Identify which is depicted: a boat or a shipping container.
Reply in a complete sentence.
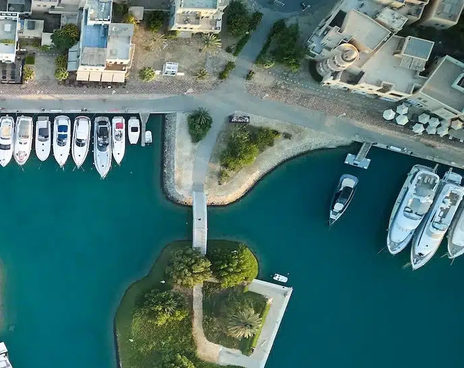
There is a boat in the scene.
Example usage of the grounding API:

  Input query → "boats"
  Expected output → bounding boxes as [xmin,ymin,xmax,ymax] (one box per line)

[411,164,464,271]
[52,114,72,172]
[34,115,52,160]
[71,114,91,176]
[92,114,113,179]
[272,273,288,282]
[112,115,126,166]
[146,130,152,145]
[326,166,360,234]
[389,159,440,255]
[0,353,13,368]
[0,114,14,171]
[447,188,464,259]
[13,113,33,175]
[126,118,140,144]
